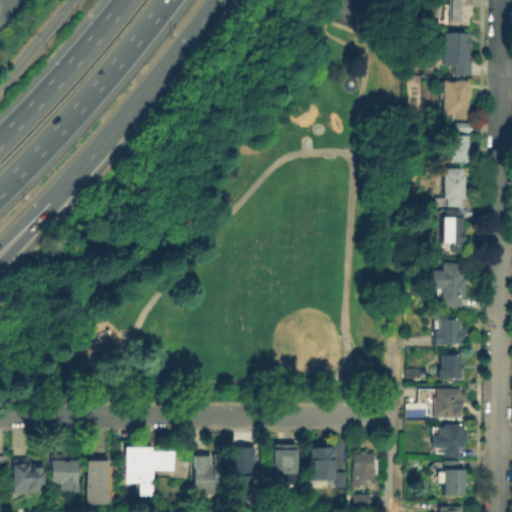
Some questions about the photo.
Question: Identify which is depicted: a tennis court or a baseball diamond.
baseball diamond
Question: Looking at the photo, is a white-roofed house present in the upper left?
No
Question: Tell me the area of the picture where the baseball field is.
center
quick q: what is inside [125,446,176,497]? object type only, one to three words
house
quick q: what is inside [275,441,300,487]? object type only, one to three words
house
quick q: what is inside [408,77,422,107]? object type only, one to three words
building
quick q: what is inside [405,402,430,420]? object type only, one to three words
building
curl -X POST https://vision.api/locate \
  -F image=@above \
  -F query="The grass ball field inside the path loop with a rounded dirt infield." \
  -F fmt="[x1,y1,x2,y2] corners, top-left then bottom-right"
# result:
[178,156,348,394]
